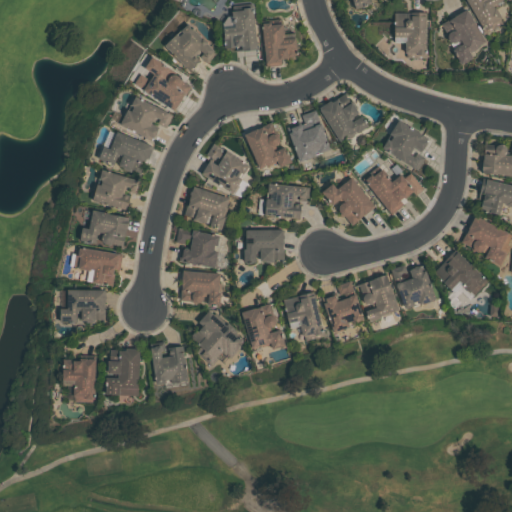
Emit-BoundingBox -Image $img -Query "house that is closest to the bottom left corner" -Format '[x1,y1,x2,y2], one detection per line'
[62,355,97,404]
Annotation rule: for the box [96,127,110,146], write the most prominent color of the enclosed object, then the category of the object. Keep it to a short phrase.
blue swimming pool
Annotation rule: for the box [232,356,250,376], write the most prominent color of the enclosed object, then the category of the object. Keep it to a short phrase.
blue swimming pool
